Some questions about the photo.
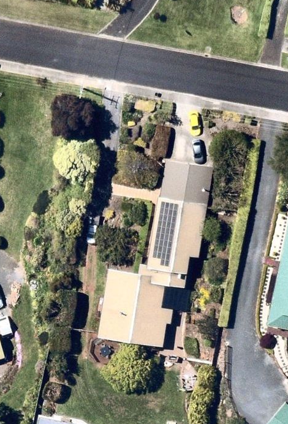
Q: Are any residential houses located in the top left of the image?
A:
No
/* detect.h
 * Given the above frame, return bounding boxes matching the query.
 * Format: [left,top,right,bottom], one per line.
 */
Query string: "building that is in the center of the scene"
[98,160,212,347]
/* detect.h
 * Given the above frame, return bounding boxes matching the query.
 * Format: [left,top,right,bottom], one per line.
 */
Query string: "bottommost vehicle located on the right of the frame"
[192,138,205,164]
